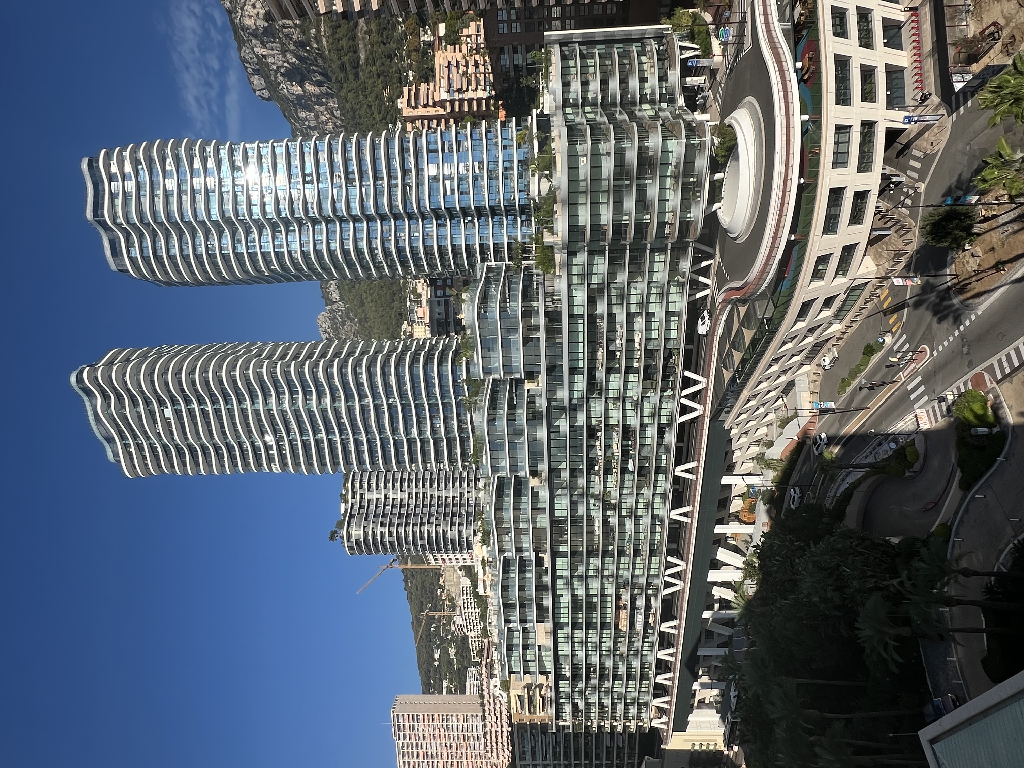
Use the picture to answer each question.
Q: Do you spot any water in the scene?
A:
No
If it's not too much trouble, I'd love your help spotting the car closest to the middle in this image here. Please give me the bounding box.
[697,309,709,336]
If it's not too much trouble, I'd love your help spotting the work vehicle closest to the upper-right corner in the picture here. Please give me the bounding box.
[976,2,1007,53]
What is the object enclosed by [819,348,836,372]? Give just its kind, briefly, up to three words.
car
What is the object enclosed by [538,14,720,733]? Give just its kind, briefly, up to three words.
building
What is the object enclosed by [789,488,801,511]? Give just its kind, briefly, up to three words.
vehicle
